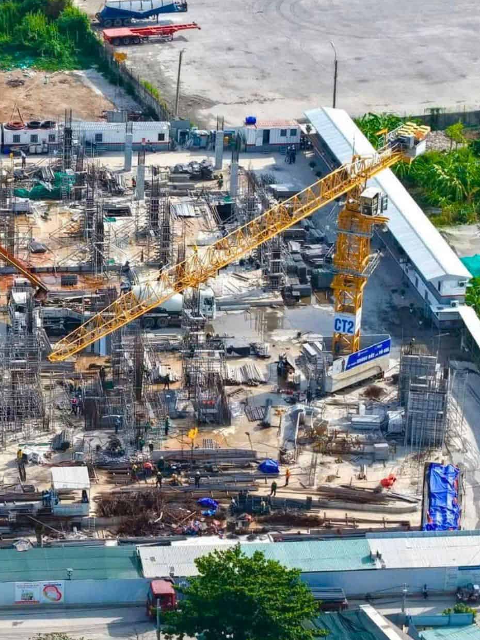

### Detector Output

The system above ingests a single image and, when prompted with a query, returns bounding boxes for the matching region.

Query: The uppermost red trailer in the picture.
[104,23,206,47]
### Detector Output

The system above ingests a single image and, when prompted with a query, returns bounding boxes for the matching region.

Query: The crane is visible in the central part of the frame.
[51,132,422,384]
